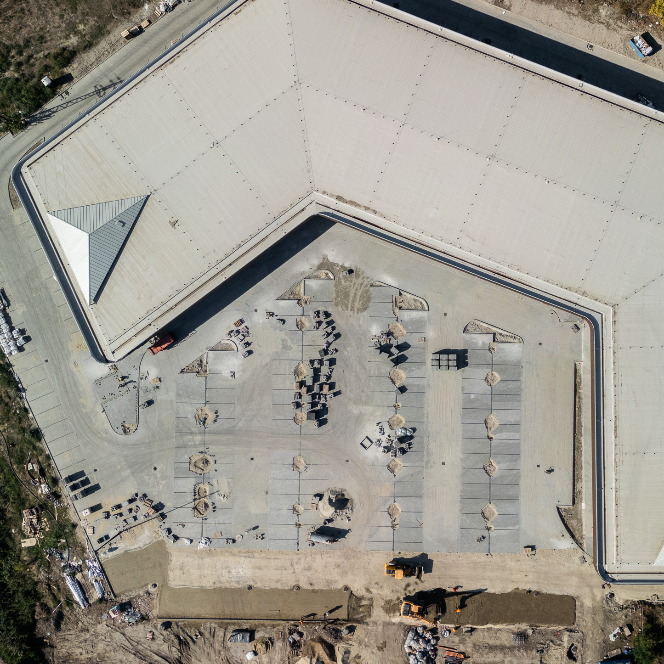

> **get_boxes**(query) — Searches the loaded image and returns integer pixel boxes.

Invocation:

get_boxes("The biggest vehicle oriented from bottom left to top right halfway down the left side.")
[148,329,177,352]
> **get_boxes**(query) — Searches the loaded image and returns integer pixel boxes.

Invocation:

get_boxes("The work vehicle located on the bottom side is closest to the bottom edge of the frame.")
[397,599,440,630]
